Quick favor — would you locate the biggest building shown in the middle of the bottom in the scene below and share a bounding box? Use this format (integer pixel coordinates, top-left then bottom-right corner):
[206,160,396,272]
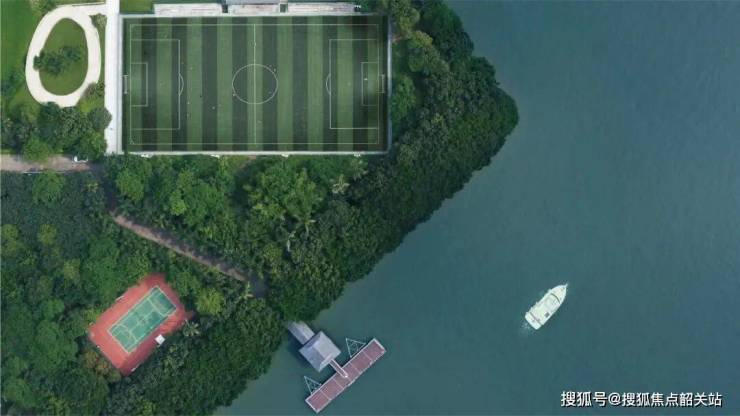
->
[300,331,340,372]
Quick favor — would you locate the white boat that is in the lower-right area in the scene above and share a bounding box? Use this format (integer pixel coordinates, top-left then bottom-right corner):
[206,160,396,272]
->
[525,284,568,329]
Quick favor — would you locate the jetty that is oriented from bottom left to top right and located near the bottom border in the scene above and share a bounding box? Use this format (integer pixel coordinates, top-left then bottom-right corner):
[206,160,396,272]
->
[306,338,386,413]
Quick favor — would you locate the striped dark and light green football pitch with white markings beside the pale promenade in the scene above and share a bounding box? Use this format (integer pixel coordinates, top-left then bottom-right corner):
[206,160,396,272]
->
[119,13,391,155]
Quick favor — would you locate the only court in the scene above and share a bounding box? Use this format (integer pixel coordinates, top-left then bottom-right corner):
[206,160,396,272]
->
[88,269,194,375]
